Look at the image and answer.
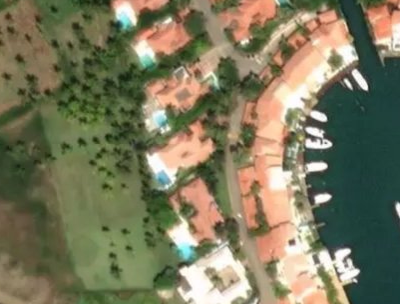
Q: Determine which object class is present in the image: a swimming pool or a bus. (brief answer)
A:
swimming pool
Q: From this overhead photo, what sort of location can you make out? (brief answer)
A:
residential area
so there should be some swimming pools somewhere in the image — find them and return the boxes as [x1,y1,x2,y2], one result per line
[134,40,156,69]
[115,3,138,30]
[146,155,177,189]
[170,220,198,261]
[145,97,171,132]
